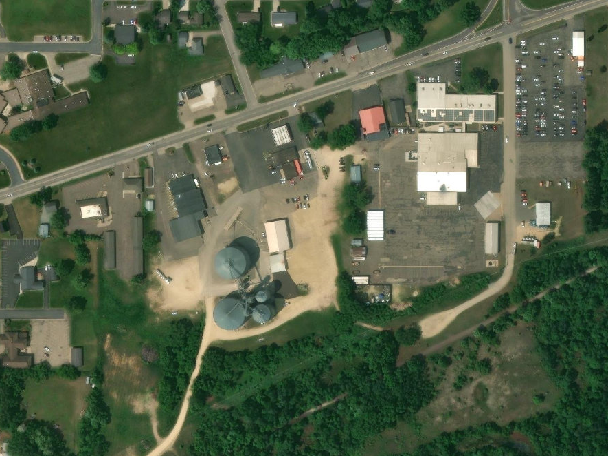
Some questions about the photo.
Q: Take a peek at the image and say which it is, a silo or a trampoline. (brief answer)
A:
silo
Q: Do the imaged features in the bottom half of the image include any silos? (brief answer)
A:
Yes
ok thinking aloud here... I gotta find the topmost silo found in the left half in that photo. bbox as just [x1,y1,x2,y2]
[214,247,246,279]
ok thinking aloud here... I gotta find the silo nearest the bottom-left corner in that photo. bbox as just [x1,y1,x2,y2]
[212,298,245,330]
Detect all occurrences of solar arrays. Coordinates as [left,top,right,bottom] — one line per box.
[437,110,453,122]
[419,110,435,122]
[454,110,474,122]
[484,111,494,122]
[475,110,483,122]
